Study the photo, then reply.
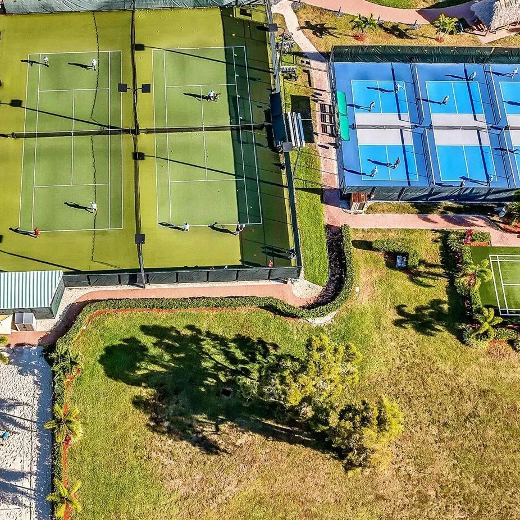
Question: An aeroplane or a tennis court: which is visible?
tennis court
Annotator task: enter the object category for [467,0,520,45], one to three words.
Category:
shed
